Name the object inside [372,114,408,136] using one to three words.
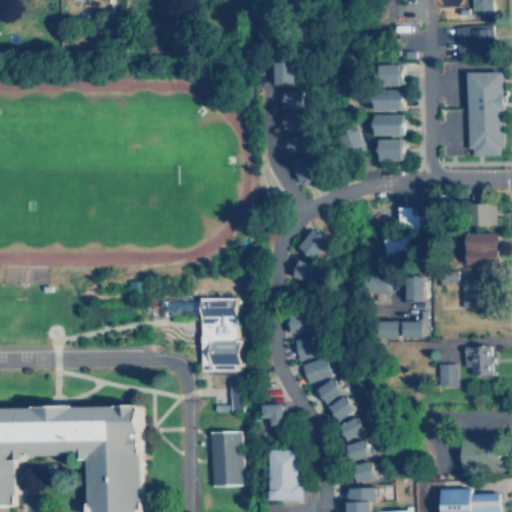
house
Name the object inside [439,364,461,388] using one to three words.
building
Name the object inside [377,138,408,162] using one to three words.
house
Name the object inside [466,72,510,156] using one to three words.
building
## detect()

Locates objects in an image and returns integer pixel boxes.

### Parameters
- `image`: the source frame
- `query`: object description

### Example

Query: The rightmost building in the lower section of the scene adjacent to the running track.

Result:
[199,298,247,372]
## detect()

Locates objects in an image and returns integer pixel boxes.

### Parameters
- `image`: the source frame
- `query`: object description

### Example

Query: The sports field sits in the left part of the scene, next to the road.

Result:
[0,92,240,248]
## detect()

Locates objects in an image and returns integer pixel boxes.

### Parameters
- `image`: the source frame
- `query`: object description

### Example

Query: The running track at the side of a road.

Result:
[0,76,258,284]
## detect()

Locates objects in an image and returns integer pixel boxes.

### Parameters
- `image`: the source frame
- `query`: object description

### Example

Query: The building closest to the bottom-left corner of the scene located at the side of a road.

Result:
[0,406,152,512]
